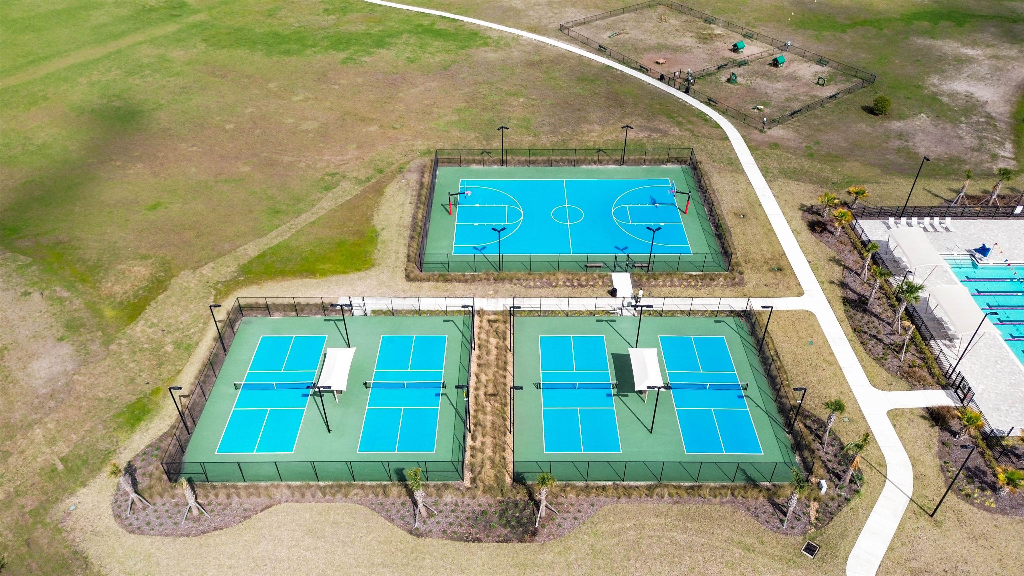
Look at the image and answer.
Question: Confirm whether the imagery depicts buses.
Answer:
No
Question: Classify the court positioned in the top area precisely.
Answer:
basketball court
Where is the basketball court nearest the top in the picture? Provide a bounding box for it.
[421,166,729,273]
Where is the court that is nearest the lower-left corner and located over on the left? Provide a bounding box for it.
[215,335,327,453]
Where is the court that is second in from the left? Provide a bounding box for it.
[357,335,447,453]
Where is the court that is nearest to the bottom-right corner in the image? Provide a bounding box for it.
[659,335,763,453]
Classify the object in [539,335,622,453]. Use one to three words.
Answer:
sports court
